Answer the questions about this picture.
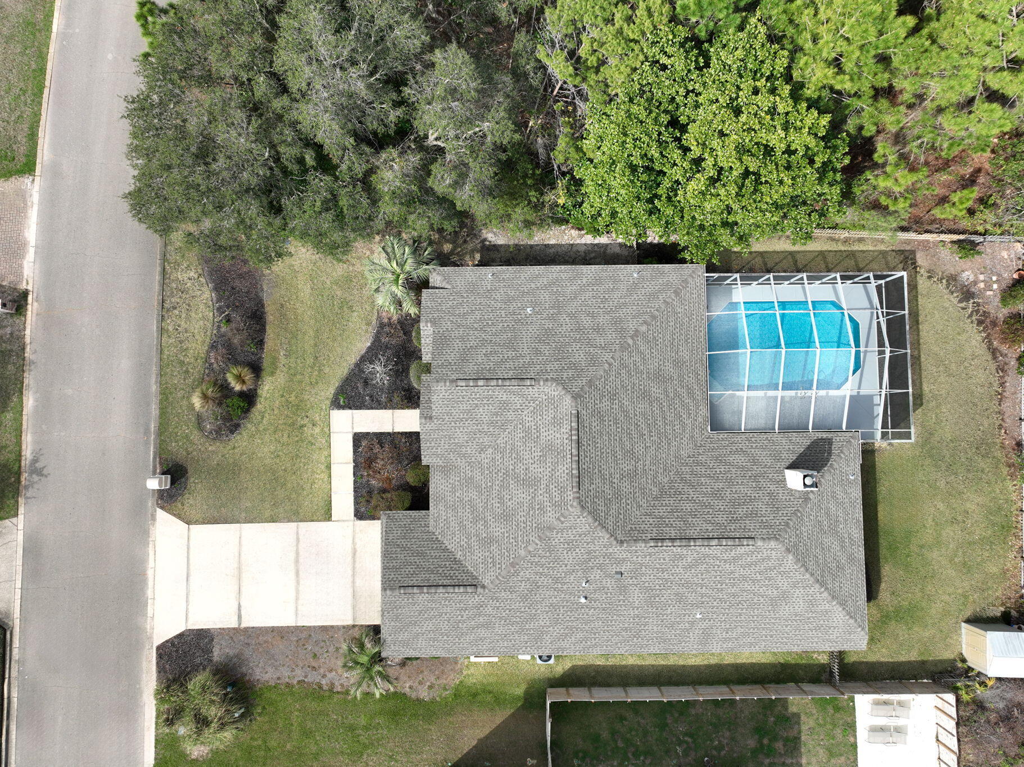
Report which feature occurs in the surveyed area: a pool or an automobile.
pool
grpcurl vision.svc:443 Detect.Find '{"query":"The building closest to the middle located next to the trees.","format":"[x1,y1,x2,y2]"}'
[382,262,869,657]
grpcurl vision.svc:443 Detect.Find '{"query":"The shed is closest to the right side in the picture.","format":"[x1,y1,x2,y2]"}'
[962,621,1024,677]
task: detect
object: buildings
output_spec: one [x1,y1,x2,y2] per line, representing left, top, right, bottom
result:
[962,621,1024,677]
[382,262,869,657]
